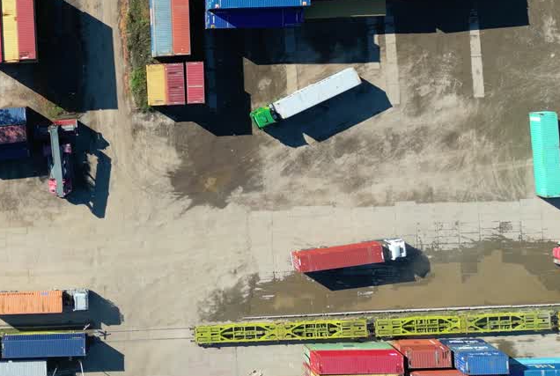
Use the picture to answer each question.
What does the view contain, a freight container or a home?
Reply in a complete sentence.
Looking from above, you can make out a freight container.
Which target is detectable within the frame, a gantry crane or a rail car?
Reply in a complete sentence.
Of the two, only a rail car appears.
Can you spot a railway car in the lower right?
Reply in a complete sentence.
Yes, a railway car shows up in the lower right.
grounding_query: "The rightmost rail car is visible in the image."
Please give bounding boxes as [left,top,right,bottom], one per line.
[376,310,558,335]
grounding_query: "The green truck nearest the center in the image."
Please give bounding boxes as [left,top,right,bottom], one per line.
[249,99,277,129]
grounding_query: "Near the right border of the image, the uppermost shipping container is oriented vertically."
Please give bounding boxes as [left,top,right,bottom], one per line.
[530,112,560,197]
